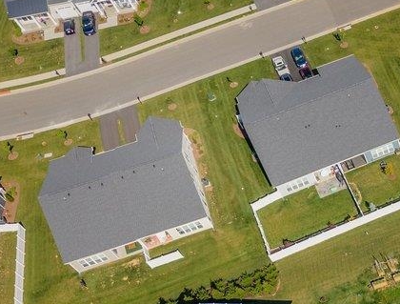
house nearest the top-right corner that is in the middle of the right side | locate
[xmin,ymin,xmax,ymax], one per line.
[233,55,400,197]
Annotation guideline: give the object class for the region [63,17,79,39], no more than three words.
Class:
car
